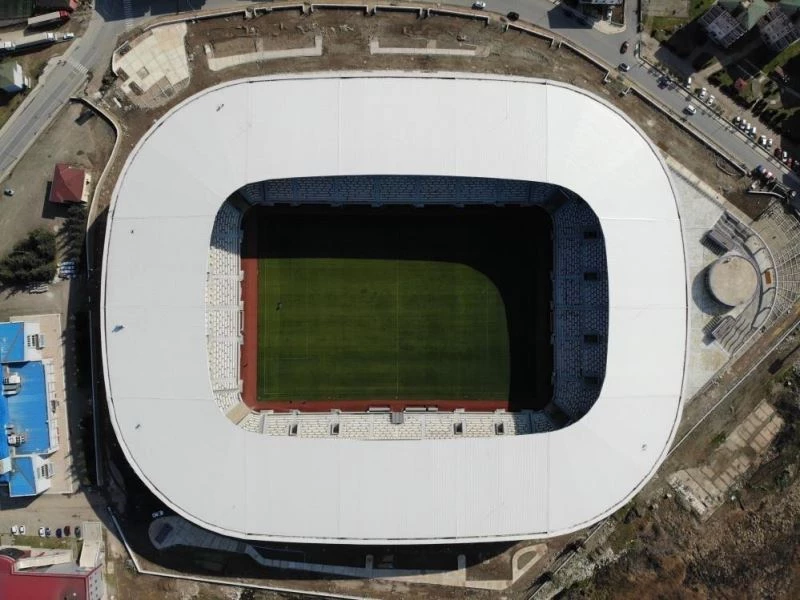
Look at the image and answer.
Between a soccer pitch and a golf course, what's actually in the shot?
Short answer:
soccer pitch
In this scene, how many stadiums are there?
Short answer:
one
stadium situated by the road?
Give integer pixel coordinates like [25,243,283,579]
[100,70,688,545]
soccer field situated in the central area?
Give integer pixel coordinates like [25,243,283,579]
[241,205,552,412]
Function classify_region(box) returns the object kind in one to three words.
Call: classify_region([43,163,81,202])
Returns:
house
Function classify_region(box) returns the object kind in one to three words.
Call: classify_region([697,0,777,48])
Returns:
building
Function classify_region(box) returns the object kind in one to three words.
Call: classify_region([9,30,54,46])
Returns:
vehicle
